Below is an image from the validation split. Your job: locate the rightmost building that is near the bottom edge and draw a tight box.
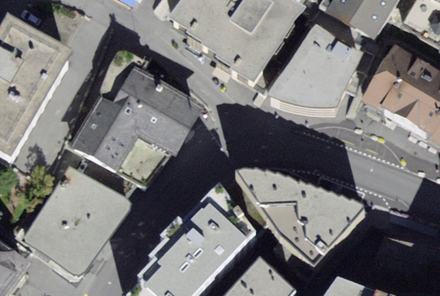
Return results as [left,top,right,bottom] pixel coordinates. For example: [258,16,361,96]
[375,236,440,296]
